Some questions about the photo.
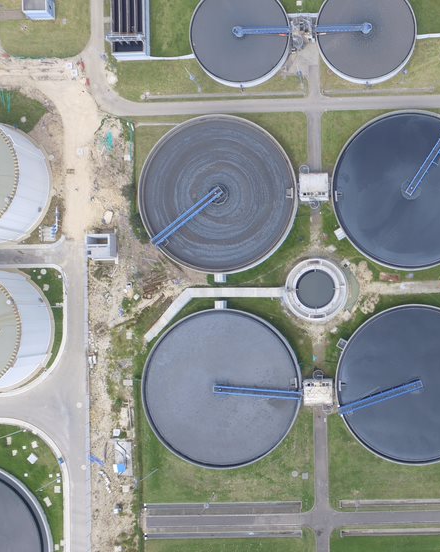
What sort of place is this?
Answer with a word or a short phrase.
industrial area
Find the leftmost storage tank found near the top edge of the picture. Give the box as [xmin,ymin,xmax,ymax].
[188,0,292,88]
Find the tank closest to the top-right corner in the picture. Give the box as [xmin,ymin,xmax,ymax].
[315,0,418,85]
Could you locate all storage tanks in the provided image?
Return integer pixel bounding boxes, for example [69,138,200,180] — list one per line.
[0,125,54,245]
[331,110,440,270]
[336,305,440,465]
[0,268,55,388]
[315,0,418,85]
[188,0,292,88]
[141,308,302,468]
[285,258,347,320]
[137,113,299,274]
[0,468,54,552]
